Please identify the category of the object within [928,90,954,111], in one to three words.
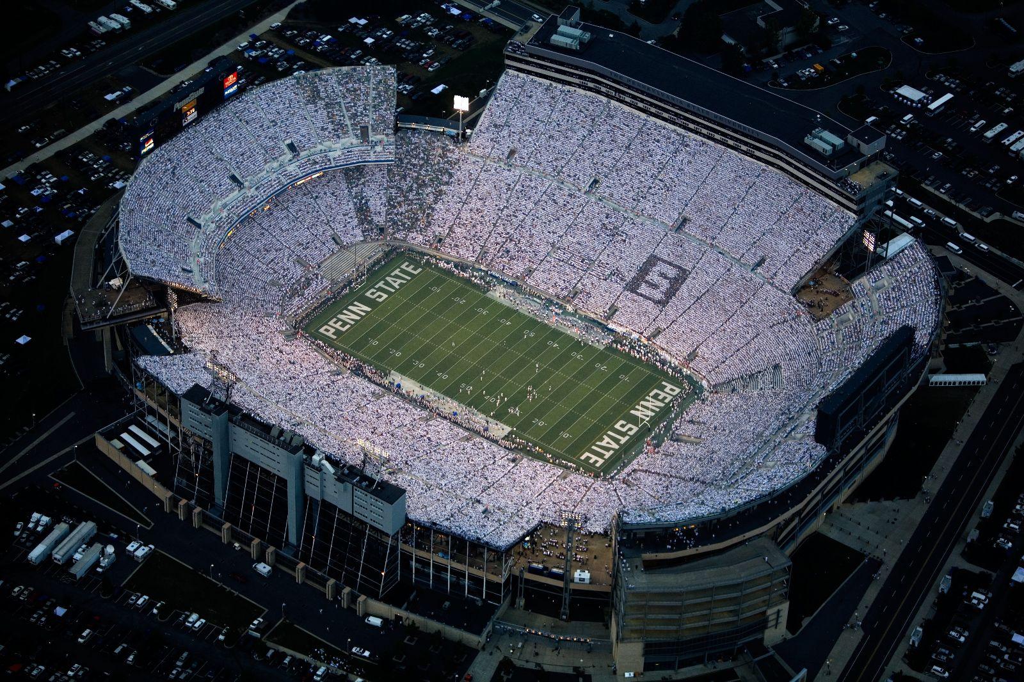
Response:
bus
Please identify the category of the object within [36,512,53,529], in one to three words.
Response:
vehicle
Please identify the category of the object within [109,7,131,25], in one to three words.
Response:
camper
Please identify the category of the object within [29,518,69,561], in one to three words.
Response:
trailer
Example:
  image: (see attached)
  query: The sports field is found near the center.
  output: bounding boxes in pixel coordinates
[305,254,693,476]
